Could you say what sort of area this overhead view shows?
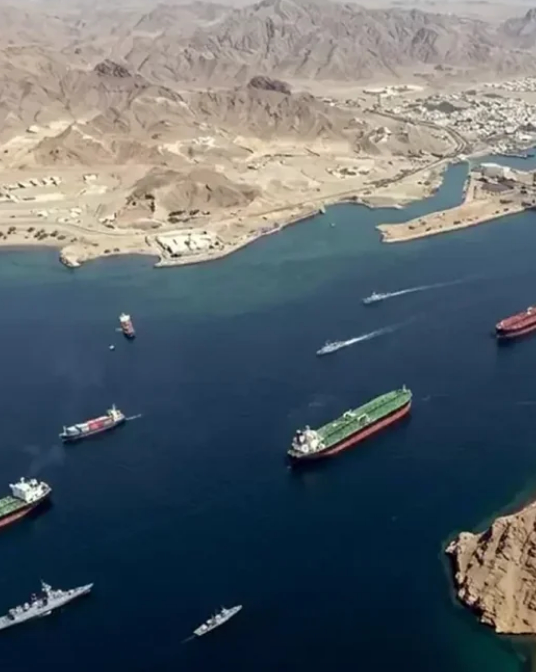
port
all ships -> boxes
[497,310,536,334]
[363,291,390,302]
[0,471,50,527]
[0,582,90,629]
[63,406,125,440]
[317,341,346,353]
[117,310,137,338]
[289,393,413,459]
[196,606,239,634]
